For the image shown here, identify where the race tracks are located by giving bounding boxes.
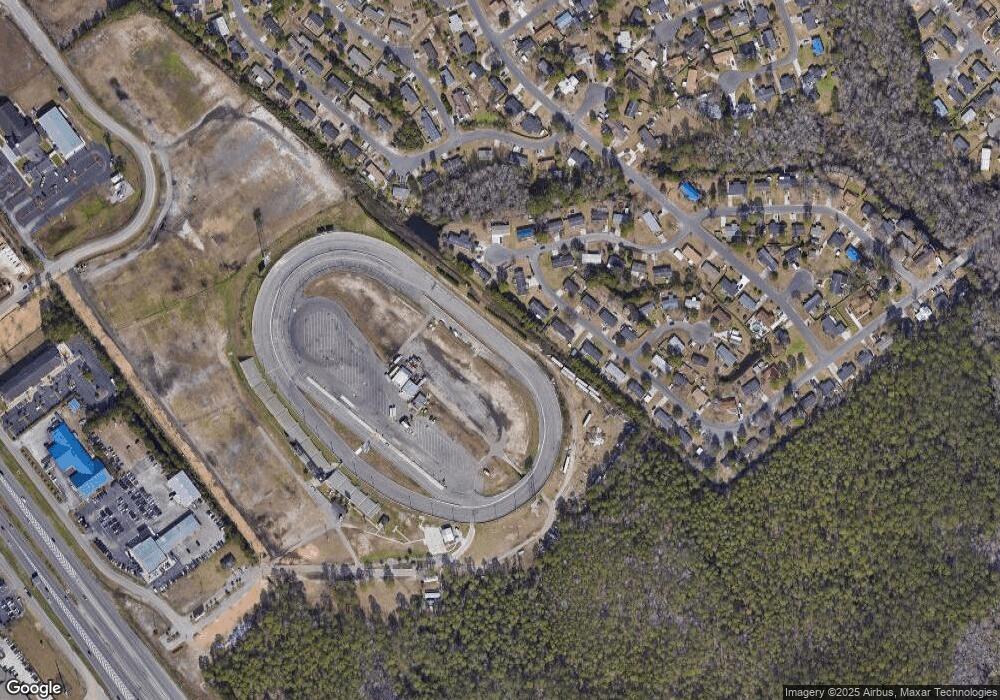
[251,231,562,522]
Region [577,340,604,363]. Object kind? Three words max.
house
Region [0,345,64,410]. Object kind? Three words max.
building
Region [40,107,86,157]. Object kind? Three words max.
building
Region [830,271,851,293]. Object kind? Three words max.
house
